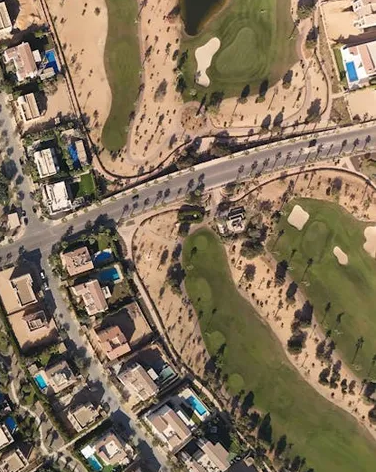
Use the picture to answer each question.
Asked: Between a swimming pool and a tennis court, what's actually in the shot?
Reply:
swimming pool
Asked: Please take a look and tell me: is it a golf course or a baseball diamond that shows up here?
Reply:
golf course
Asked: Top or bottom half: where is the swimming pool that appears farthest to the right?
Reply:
top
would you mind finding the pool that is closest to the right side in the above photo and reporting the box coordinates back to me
[339,47,374,89]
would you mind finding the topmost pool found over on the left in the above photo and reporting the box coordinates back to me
[43,47,61,71]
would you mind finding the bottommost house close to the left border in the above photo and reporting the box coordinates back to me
[0,446,32,472]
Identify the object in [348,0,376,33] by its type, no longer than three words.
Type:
house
